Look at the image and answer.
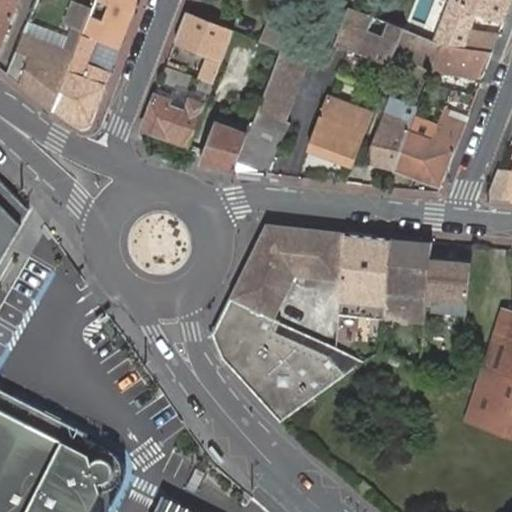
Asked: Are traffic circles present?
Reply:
Yes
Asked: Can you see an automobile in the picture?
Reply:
Yes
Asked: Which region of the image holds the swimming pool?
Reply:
top right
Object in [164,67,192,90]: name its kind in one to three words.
building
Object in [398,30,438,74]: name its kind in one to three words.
house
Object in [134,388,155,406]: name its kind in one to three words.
car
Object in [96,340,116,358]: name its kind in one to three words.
car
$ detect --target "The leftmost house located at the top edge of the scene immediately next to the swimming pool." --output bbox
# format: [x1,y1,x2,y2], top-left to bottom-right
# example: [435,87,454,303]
[334,8,402,60]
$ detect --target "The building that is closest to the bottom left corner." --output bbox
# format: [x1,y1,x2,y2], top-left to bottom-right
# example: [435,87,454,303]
[0,390,120,512]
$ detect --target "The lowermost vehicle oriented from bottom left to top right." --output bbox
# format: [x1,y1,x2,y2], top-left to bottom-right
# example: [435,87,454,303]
[153,409,174,427]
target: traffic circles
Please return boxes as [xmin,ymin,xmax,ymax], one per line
[84,160,236,325]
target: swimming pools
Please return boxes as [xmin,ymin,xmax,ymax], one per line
[408,0,442,33]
